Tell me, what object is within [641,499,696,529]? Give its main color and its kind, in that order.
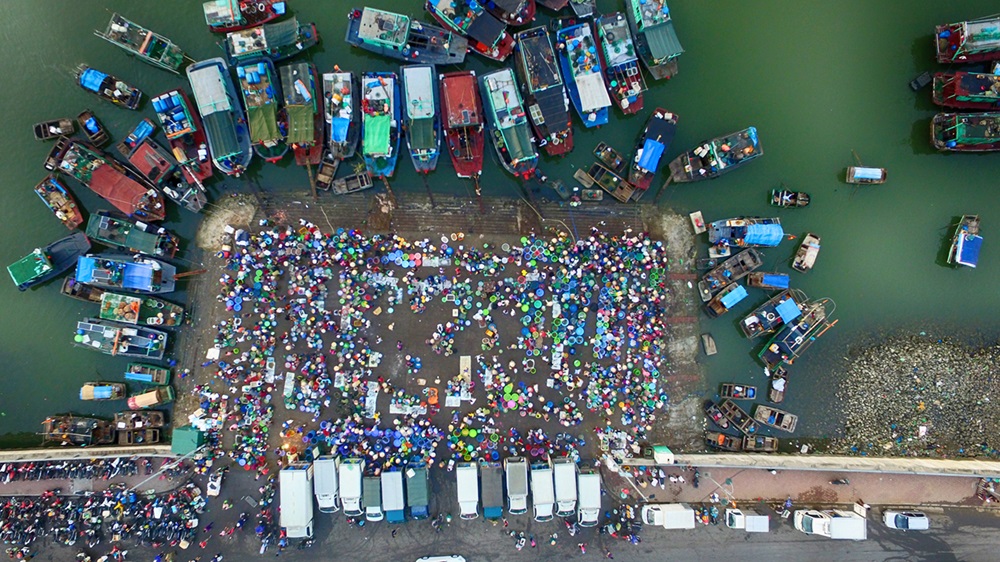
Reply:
white truck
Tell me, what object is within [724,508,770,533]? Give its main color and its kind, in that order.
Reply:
white truck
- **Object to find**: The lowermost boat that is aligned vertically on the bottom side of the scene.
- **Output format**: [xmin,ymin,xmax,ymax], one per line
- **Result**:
[766,366,789,404]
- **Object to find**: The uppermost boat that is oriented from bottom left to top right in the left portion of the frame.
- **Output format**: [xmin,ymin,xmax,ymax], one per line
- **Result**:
[120,118,160,154]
